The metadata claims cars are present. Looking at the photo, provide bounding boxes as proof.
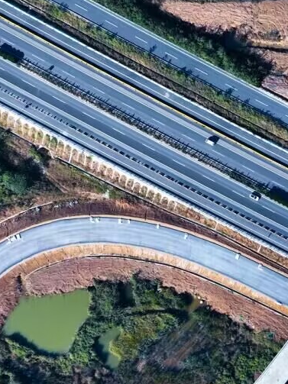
[205,138,215,146]
[250,192,260,200]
